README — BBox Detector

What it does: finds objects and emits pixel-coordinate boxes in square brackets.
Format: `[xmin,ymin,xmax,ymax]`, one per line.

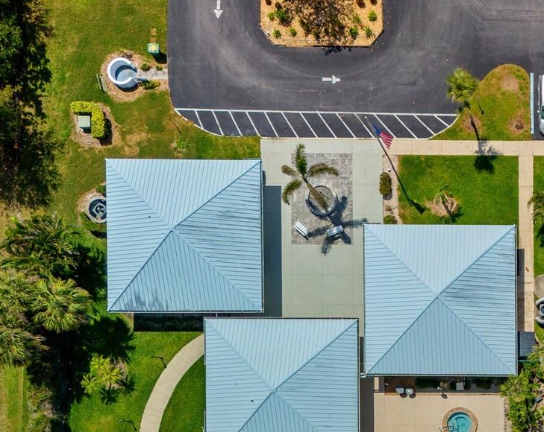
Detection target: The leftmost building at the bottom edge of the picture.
[203,316,362,432]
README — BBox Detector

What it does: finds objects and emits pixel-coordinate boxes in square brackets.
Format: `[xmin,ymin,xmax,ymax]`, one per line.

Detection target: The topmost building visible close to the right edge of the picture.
[361,224,520,378]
